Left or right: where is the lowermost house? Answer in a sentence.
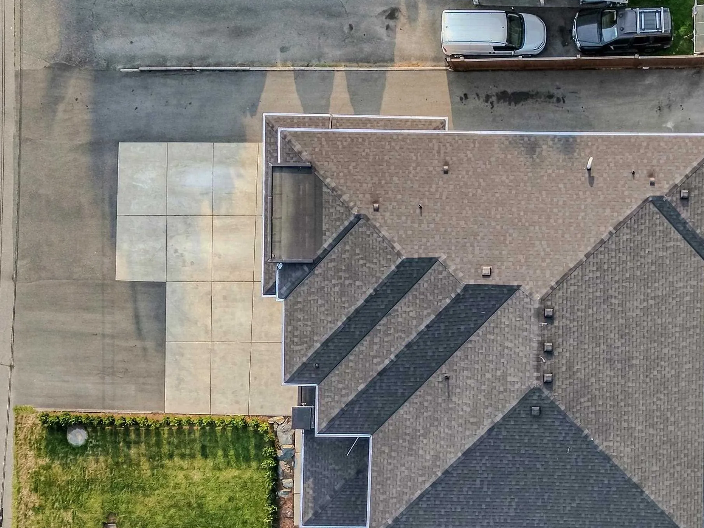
The lowermost house sits on the right side.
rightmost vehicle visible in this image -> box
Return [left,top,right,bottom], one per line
[573,1,675,52]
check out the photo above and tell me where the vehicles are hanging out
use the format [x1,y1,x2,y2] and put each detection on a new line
[440,10,546,56]
[573,1,675,52]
